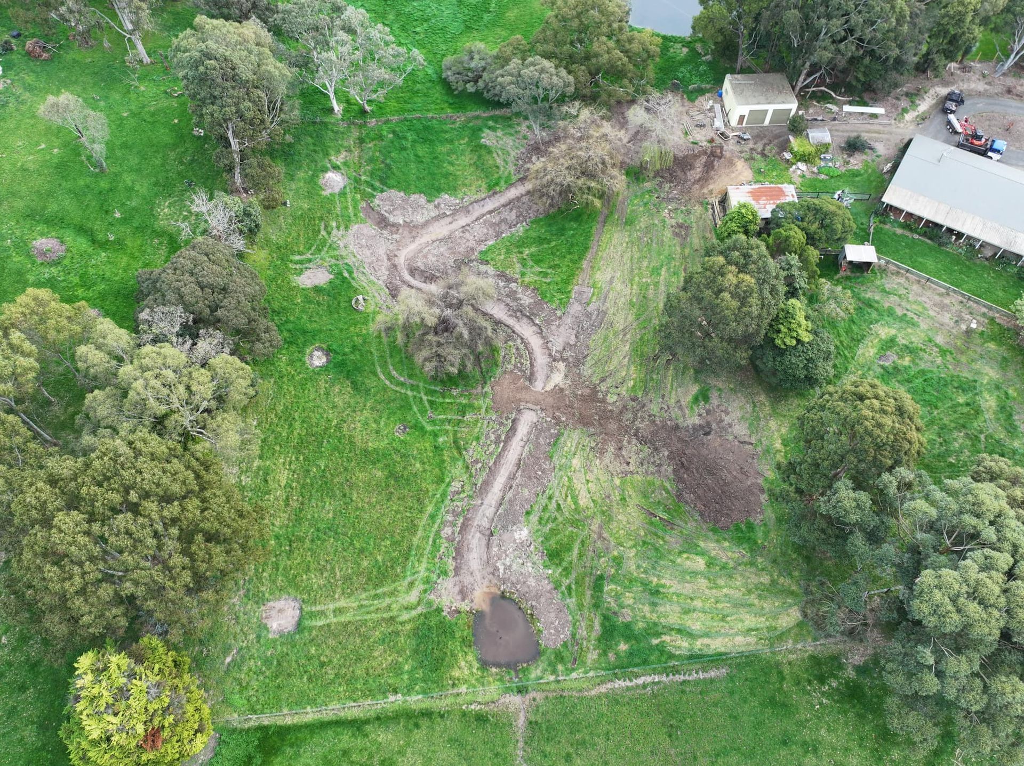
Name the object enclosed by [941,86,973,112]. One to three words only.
truck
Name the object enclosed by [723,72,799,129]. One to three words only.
building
